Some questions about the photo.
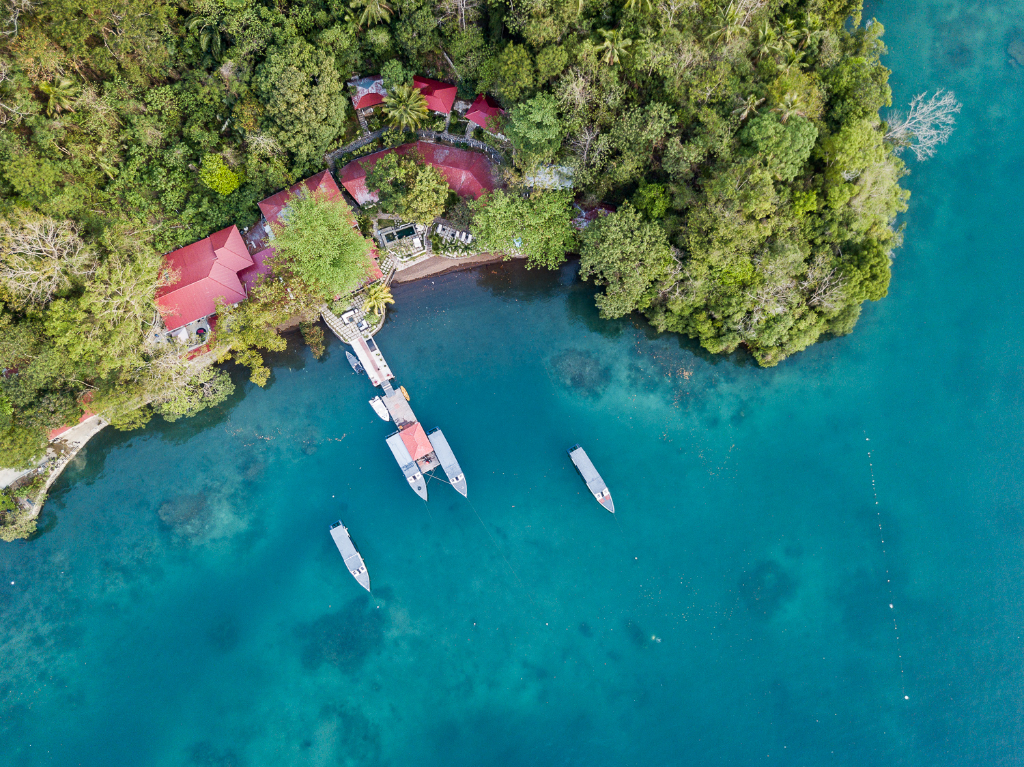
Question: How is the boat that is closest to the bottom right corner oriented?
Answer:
diagonally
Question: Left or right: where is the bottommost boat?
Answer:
left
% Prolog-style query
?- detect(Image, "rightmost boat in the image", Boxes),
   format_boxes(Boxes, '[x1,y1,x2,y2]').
[566,443,615,514]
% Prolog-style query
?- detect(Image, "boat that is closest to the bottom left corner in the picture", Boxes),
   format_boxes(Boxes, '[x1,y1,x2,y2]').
[329,520,370,593]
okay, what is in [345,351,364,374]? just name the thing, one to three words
boat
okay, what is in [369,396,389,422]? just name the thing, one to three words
boat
